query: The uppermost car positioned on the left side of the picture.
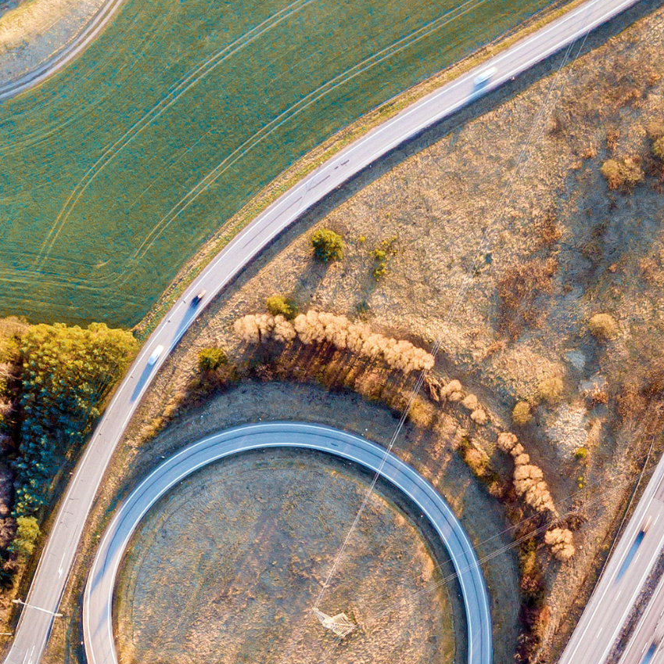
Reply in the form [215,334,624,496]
[189,291,203,307]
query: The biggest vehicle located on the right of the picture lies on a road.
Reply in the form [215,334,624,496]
[476,65,495,81]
